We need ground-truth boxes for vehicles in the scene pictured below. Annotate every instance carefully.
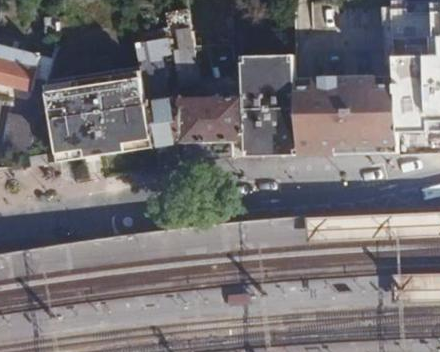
[399,160,422,172]
[256,181,278,192]
[234,184,255,194]
[420,184,440,201]
[324,8,334,29]
[362,168,383,179]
